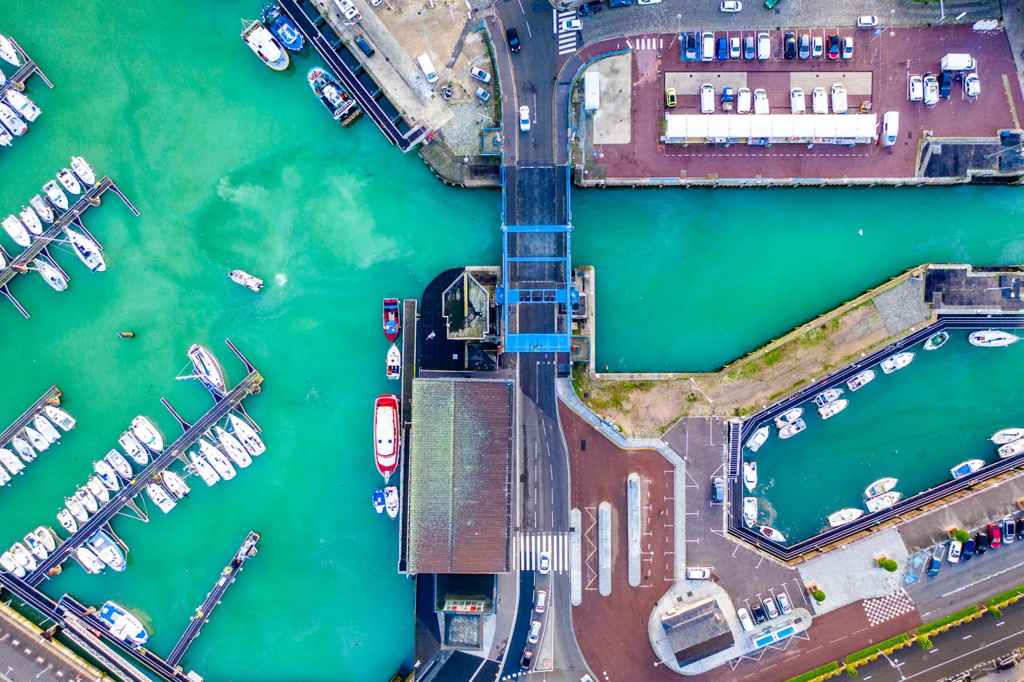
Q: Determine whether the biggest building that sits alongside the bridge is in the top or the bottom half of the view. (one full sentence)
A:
The biggest building that sits alongside the bridge is in the bottom half of the image.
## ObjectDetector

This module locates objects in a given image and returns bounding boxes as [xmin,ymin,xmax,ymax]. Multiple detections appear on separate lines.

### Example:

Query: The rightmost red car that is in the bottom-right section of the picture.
[987,523,1002,547]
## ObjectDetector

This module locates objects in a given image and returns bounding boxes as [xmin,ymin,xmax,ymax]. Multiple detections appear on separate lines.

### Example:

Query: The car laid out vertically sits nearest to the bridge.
[519,106,531,133]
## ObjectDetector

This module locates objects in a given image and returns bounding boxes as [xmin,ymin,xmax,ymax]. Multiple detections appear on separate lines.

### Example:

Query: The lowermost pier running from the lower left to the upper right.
[167,532,260,668]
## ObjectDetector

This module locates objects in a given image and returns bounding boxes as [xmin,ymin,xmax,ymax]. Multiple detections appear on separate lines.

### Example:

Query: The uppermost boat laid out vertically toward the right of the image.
[742,459,757,493]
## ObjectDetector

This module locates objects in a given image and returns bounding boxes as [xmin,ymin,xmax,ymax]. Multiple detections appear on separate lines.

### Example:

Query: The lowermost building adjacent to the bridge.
[408,377,514,574]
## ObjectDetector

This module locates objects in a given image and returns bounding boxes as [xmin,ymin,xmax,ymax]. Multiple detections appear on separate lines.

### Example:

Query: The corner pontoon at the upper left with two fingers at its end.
[0,36,56,117]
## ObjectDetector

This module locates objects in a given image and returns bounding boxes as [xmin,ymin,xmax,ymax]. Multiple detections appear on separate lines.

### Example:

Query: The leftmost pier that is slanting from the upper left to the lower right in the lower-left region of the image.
[0,563,64,621]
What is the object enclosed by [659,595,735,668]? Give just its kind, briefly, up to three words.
building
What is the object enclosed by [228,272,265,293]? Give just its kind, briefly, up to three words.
boat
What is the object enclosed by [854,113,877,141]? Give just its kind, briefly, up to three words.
tent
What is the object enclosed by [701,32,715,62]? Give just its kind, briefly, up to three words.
vehicle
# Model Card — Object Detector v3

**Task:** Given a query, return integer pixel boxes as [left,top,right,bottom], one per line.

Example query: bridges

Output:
[496,166,579,353]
